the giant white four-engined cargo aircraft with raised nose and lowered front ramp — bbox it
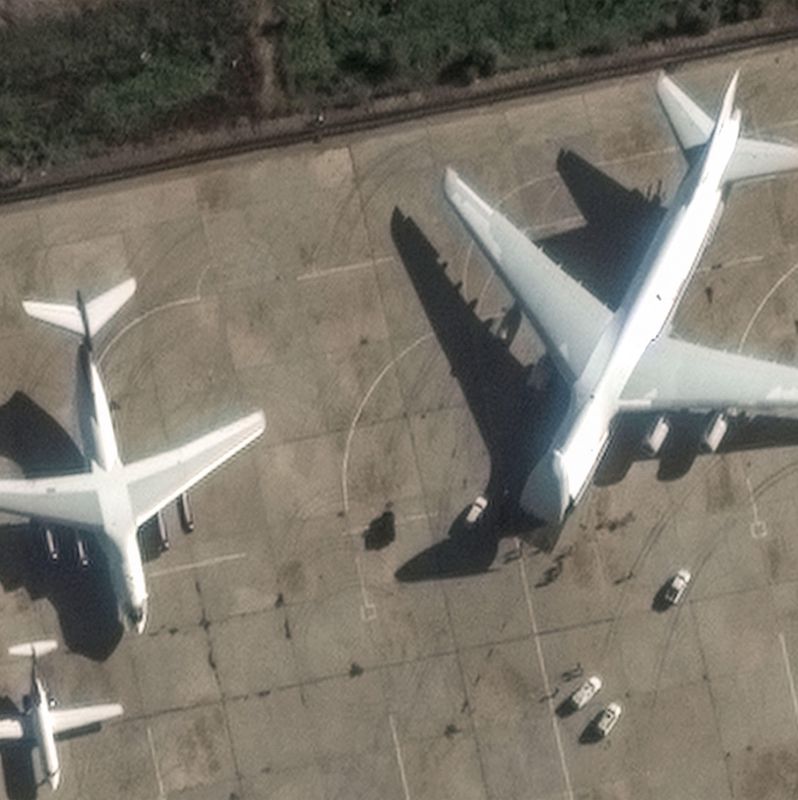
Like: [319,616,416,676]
[441,72,798,555]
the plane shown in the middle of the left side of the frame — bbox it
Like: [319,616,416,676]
[0,280,264,631]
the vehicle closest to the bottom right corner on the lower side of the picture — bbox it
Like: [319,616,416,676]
[594,702,623,736]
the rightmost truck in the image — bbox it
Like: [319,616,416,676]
[664,569,693,605]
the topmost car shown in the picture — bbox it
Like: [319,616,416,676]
[464,495,488,522]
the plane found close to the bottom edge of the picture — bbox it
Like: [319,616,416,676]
[0,641,122,788]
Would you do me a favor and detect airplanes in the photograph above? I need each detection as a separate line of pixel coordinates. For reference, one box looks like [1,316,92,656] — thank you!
[0,280,264,631]
[441,72,798,555]
[0,641,122,788]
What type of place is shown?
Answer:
airport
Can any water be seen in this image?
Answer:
No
